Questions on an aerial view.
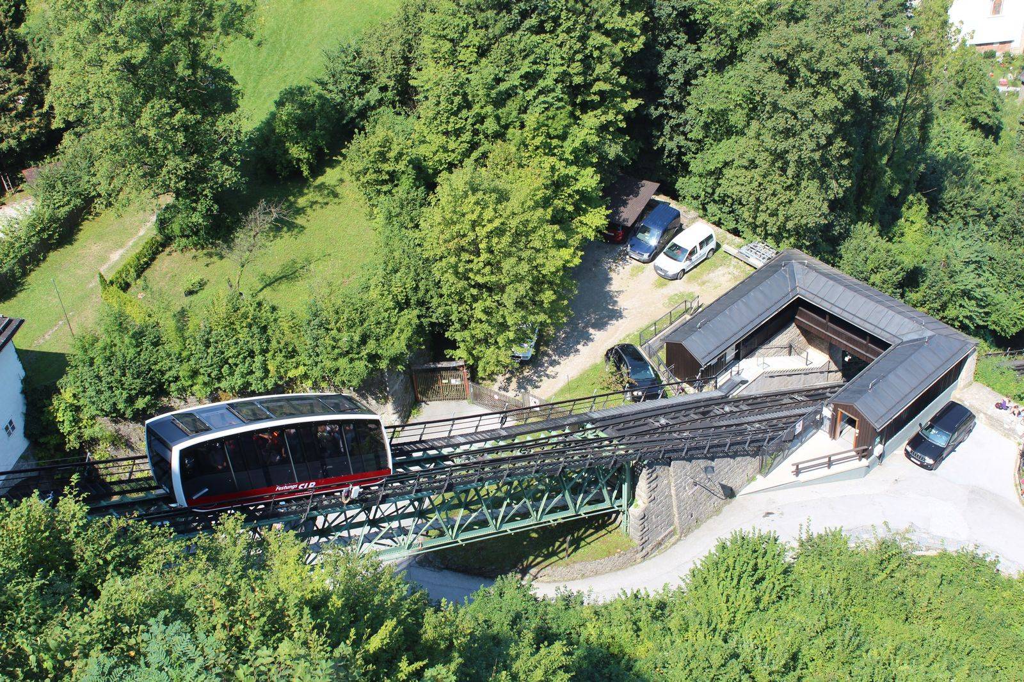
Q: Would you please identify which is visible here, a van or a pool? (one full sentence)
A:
The one in the frame is a van.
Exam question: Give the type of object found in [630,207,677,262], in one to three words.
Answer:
van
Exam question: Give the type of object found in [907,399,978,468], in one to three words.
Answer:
car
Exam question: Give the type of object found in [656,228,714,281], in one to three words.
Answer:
van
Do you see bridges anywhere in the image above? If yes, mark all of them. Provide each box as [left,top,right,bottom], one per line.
[0,373,850,572]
